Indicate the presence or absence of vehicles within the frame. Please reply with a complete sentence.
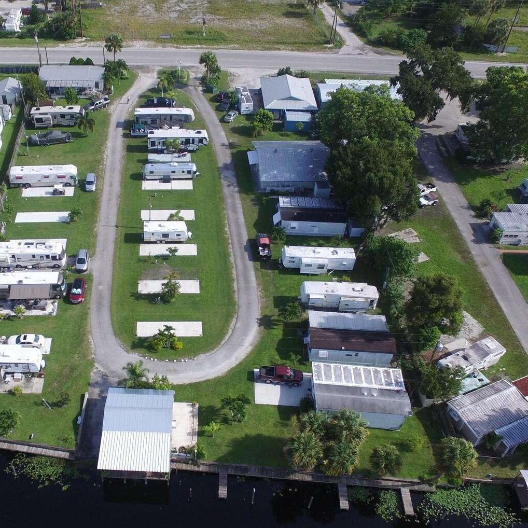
Yes, there is a vehicle in the image.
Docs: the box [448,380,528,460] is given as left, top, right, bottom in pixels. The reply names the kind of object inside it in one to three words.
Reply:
house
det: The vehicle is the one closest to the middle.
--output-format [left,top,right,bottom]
[255,232,274,260]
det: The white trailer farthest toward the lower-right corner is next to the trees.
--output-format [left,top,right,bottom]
[301,282,380,315]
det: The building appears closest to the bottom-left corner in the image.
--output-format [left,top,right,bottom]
[98,387,174,489]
